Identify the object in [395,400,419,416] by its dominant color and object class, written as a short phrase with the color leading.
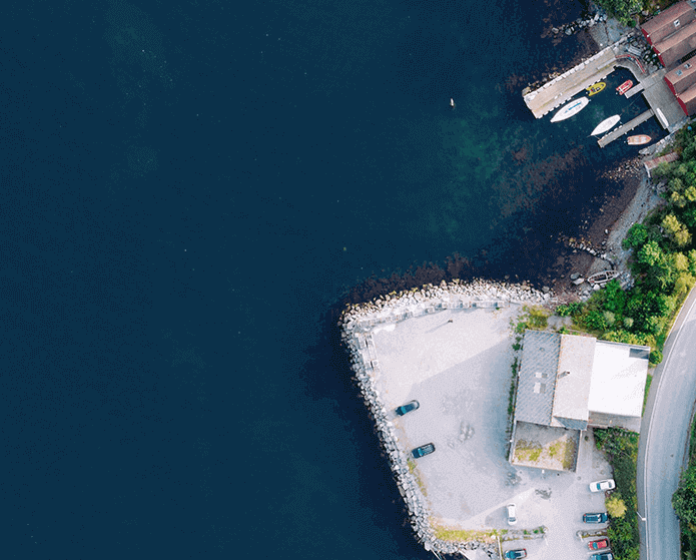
blue car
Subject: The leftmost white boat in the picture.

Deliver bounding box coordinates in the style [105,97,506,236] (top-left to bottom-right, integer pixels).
[551,96,590,122]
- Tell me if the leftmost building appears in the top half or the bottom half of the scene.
bottom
